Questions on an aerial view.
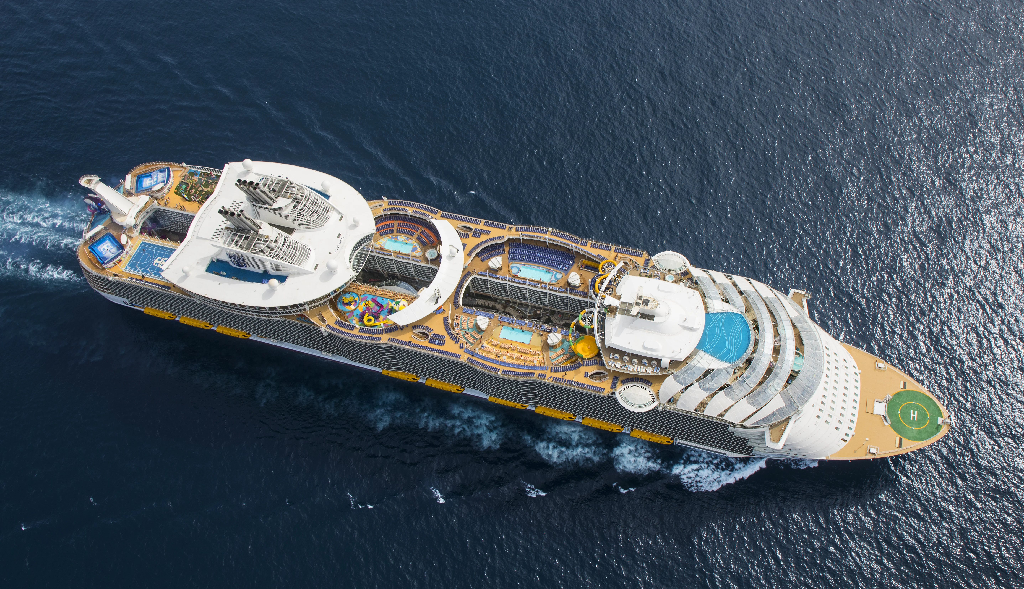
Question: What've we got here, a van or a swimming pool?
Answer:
swimming pool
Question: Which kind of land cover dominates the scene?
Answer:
water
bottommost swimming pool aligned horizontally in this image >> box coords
[492,324,543,347]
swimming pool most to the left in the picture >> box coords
[335,290,361,314]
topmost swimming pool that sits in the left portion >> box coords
[375,235,423,256]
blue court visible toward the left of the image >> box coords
[107,229,183,280]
